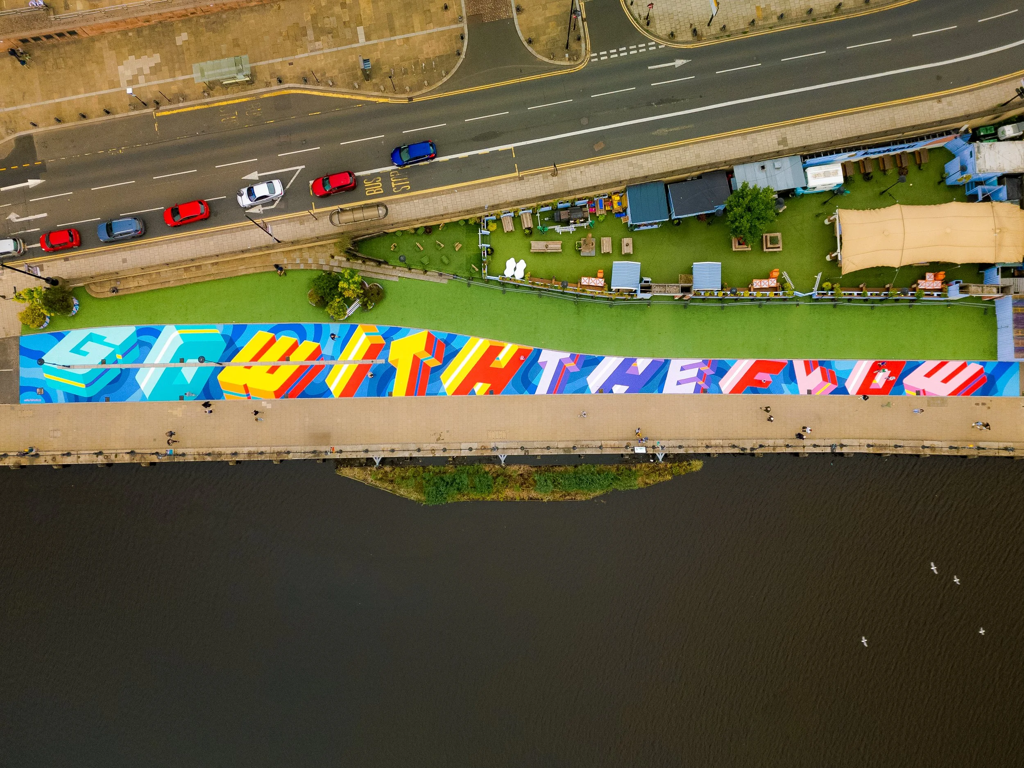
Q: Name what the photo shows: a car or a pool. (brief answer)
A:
car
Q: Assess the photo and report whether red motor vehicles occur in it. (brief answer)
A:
Yes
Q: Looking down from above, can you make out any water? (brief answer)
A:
Yes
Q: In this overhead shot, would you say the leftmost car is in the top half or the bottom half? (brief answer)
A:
top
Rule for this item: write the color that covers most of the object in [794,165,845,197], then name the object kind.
white van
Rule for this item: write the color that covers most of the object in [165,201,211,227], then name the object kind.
red car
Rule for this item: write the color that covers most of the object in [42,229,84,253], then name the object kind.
red car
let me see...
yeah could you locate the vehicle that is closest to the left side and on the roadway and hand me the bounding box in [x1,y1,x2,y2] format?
[0,235,27,259]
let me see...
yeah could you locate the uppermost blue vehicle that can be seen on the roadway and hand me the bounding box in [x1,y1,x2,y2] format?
[392,141,436,168]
